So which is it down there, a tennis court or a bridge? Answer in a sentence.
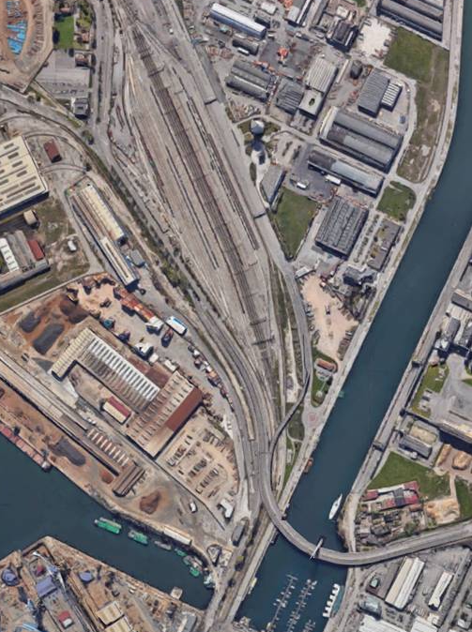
The one in the frame is a bridge.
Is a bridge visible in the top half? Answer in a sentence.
No, I see no bridge in the top half.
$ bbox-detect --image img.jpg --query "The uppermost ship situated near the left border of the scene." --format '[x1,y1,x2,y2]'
[0,423,49,471]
